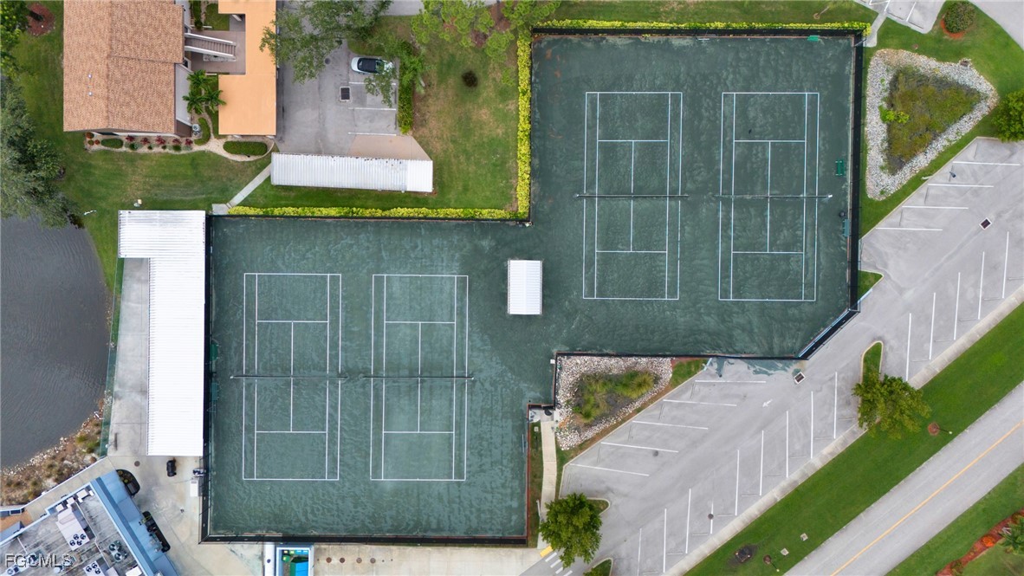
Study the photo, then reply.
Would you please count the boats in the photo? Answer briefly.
0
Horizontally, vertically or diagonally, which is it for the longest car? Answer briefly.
horizontally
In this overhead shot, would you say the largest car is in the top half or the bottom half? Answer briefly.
top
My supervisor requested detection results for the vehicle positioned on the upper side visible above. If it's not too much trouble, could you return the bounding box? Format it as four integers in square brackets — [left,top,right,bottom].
[350,54,391,75]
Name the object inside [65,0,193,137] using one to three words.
house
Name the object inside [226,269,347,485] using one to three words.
tennis court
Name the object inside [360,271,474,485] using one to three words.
tennis court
